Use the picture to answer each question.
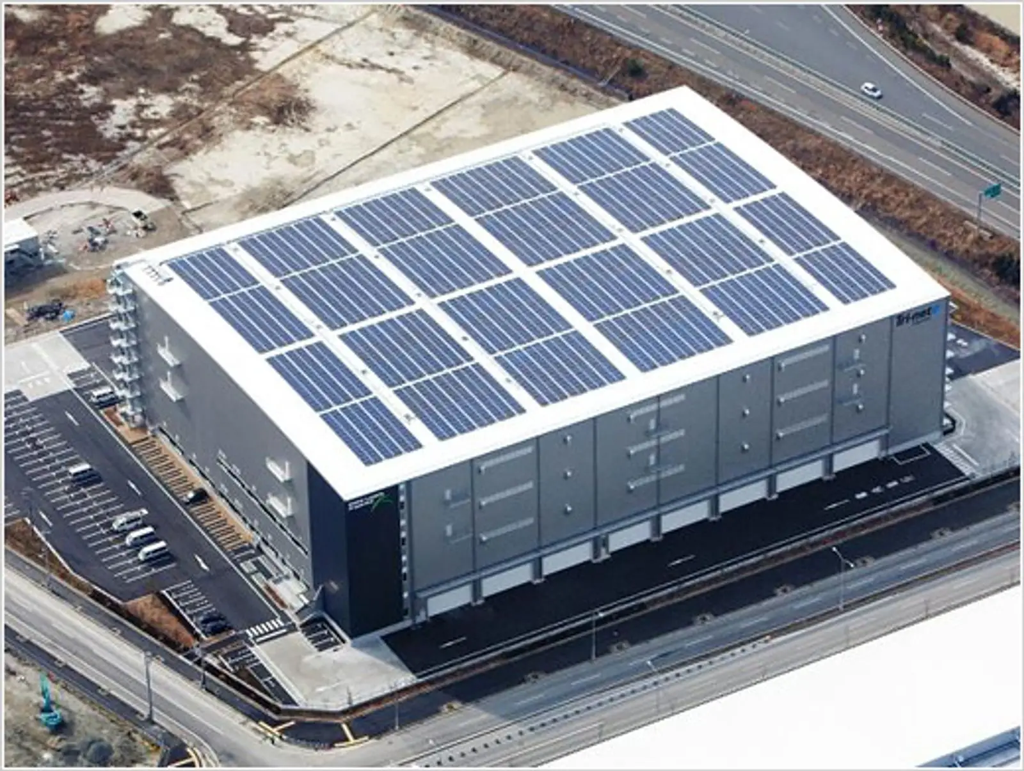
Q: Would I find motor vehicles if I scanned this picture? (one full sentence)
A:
Yes, the picture does show a motor vehicle.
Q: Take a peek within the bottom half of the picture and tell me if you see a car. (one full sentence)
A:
Yes, looking within the bottom half of the picture, one can make out a car.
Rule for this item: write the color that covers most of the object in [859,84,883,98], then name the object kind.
white car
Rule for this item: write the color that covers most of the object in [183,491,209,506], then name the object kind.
black car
